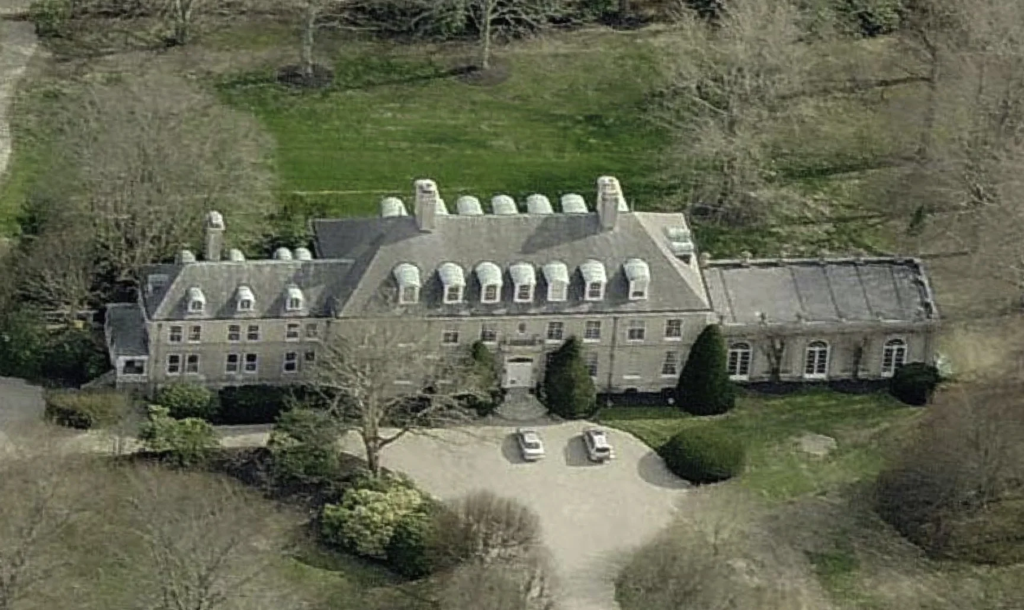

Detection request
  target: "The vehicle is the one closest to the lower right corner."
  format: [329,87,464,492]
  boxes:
[584,430,616,462]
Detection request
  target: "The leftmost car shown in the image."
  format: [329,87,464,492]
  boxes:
[516,429,544,461]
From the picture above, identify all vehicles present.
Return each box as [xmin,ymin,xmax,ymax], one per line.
[516,429,544,461]
[584,430,616,462]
